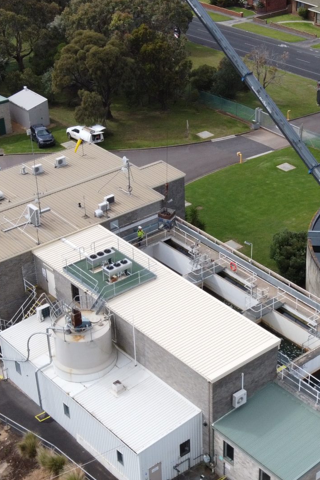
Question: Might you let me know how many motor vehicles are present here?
two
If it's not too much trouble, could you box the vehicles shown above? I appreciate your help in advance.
[28,118,48,146]
[60,118,115,142]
